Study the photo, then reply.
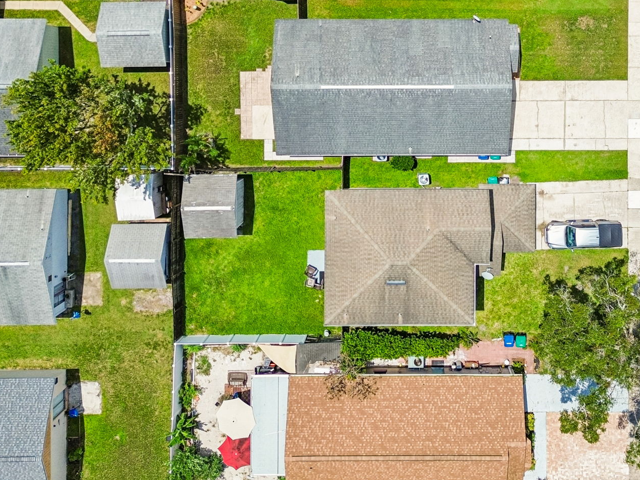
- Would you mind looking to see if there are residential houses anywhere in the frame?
Yes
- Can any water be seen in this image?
No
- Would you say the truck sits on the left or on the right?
right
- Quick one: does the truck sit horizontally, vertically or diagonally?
horizontally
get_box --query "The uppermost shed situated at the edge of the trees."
[94,1,170,68]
